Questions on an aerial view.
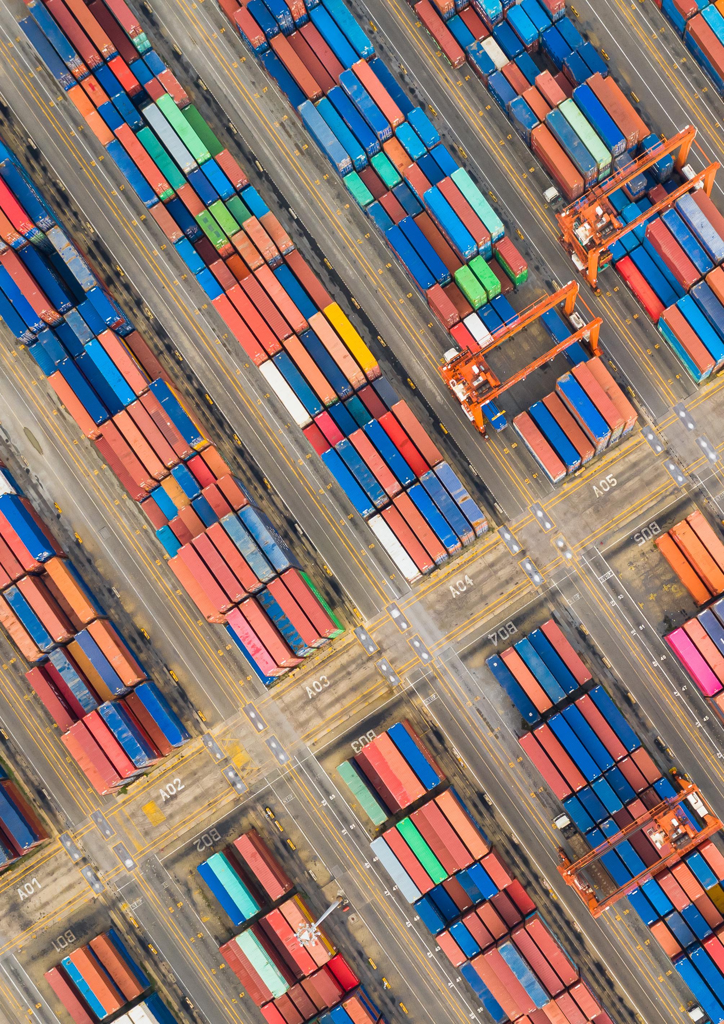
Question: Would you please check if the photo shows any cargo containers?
Yes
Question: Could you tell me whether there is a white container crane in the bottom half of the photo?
No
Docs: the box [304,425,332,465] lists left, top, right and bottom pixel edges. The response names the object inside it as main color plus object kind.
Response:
red shipping container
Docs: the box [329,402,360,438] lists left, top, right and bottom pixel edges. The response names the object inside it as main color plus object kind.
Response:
blue shipping container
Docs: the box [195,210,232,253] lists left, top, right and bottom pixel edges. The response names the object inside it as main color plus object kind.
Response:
green shipping container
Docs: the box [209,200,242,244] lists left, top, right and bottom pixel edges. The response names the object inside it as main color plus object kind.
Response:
green shipping container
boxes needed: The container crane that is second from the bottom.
[441,274,607,445]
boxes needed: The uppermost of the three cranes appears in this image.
[562,116,724,302]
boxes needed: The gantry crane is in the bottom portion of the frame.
[556,767,724,923]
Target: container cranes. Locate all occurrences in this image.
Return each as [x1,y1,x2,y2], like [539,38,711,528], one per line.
[556,767,724,923]
[562,116,724,302]
[441,274,607,445]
